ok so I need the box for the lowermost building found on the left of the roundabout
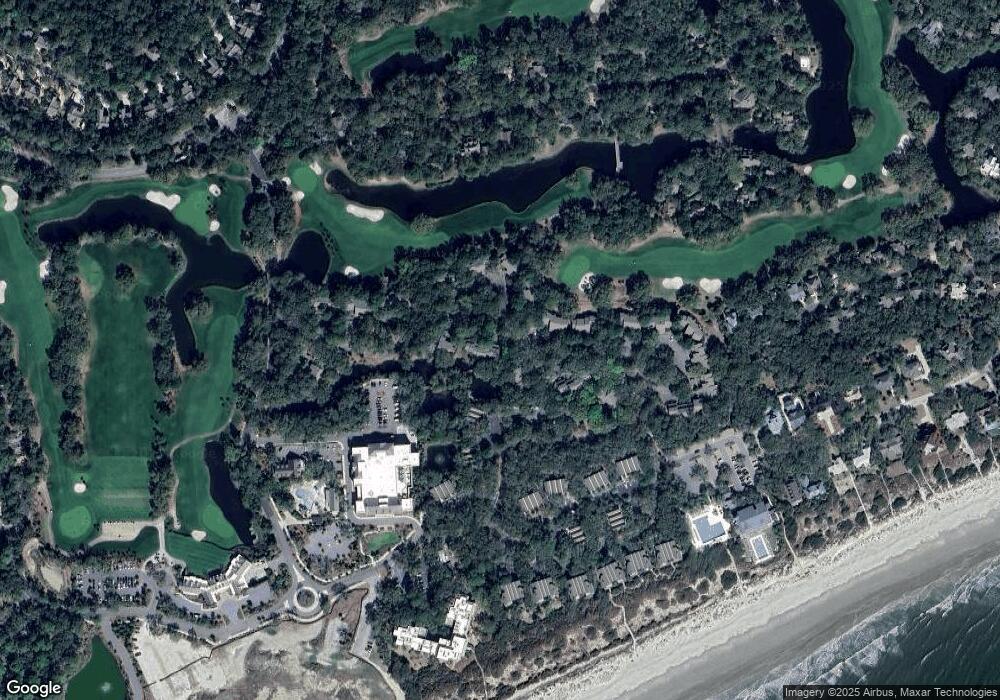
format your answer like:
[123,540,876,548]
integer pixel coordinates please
[176,555,268,619]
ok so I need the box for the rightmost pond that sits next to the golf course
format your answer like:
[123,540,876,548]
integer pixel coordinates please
[895,39,1000,228]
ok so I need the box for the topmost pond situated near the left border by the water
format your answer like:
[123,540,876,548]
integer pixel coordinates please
[38,196,259,366]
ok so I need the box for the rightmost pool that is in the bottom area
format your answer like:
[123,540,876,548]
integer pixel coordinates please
[747,525,777,565]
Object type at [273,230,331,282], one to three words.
pond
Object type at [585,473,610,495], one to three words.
house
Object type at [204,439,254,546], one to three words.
pond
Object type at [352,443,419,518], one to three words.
building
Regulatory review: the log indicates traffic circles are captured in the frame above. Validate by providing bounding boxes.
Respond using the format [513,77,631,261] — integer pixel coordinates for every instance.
[284,565,328,619]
